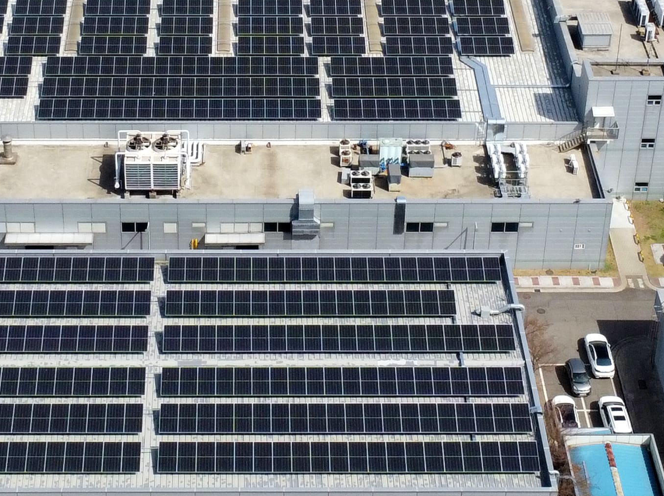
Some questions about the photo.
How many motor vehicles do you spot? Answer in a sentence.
I count 4 motor vehicles.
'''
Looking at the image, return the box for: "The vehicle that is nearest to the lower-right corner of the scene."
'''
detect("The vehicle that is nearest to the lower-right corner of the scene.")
[599,396,639,434]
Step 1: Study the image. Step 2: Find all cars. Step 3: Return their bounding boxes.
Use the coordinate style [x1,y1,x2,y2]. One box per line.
[599,396,639,434]
[564,355,596,399]
[551,396,585,444]
[584,334,617,380]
